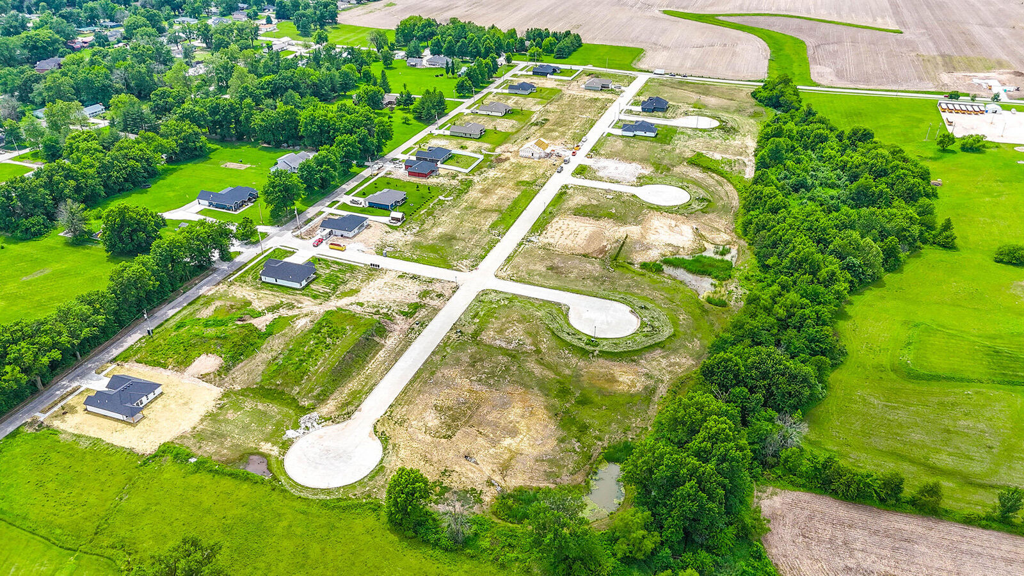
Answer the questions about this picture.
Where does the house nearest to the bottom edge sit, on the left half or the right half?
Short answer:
left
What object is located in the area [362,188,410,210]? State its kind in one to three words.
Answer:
house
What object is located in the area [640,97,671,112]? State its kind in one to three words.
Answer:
house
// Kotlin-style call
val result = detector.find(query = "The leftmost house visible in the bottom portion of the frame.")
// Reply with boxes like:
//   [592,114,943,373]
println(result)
[83,373,163,423]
